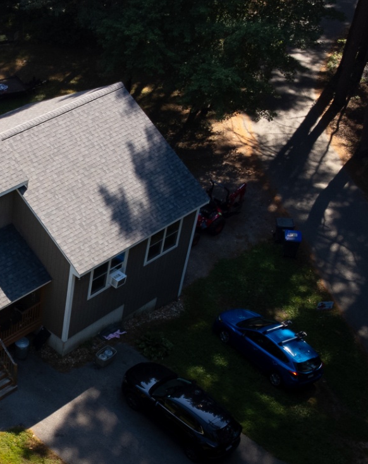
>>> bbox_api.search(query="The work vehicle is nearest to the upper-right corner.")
[183,176,231,265]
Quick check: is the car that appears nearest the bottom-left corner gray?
No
